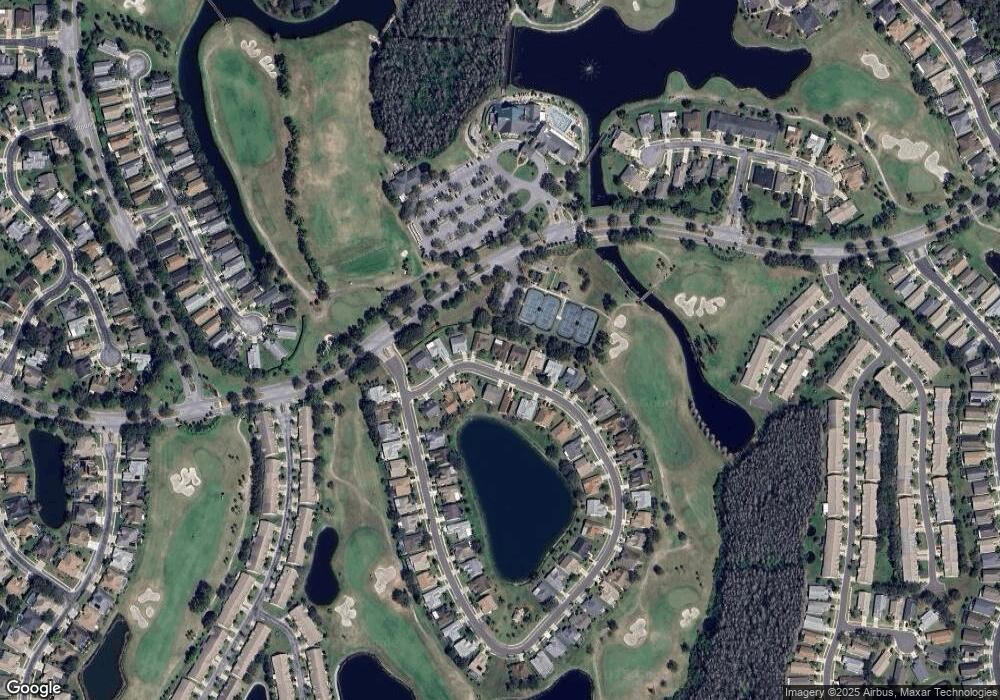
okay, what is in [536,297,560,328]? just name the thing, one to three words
tennis court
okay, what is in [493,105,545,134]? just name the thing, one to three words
building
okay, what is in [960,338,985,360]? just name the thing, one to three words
house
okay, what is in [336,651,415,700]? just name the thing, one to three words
pond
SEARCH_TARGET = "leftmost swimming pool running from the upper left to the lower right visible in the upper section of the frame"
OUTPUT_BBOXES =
[543,103,584,147]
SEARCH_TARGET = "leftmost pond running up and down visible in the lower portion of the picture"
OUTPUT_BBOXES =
[30,429,66,528]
